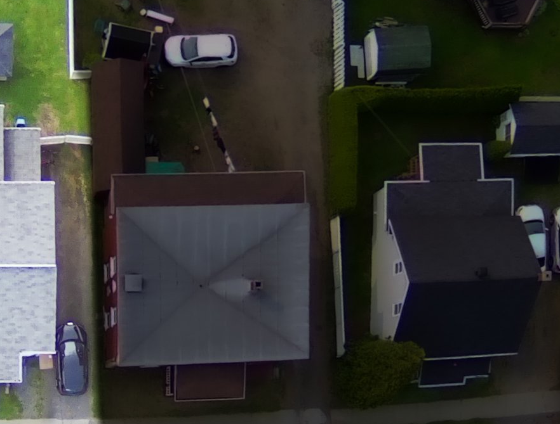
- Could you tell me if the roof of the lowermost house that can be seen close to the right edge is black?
Yes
